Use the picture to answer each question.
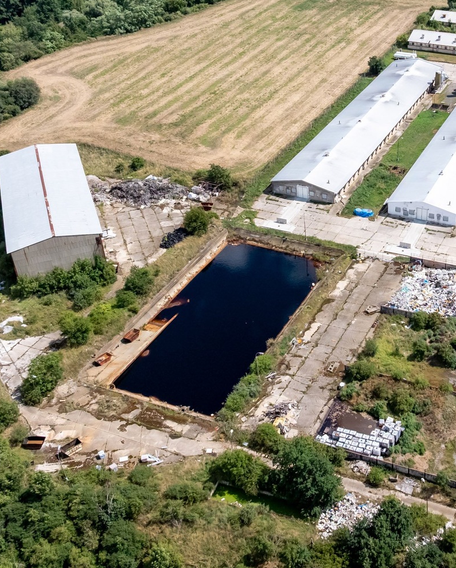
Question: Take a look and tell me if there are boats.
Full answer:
No, there appears to be no boat in this shot.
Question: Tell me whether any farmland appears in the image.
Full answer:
Yes, the picture does contain farmland.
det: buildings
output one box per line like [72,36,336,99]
[271,59,444,202]
[430,10,456,28]
[387,110,456,225]
[0,144,109,290]
[409,29,456,54]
